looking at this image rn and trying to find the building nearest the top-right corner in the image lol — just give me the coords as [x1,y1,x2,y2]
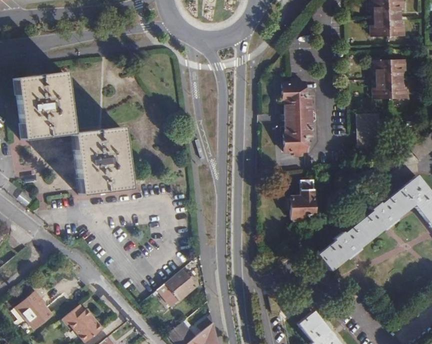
[369,0,406,37]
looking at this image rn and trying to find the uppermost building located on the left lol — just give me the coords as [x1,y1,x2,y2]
[14,72,78,140]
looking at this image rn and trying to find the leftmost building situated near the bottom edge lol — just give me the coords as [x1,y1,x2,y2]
[8,290,54,332]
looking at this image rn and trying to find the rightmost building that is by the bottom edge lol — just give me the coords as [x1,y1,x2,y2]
[296,310,343,344]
